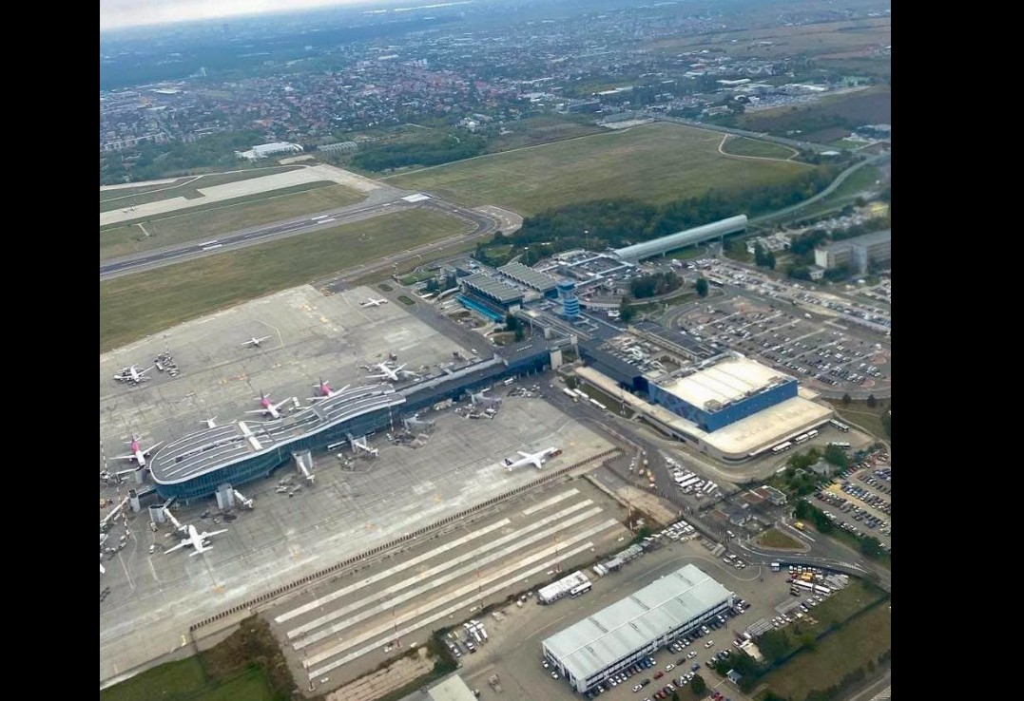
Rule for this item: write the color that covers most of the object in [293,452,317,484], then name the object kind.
gray jet bridge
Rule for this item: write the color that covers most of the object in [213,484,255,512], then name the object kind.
gray jet bridge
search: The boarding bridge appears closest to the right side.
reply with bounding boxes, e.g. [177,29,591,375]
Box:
[465,389,503,410]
